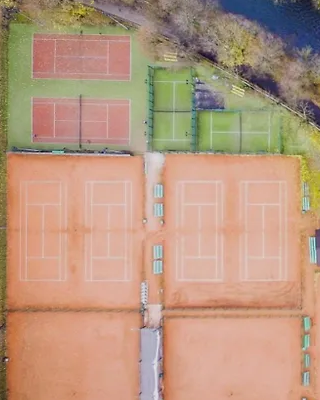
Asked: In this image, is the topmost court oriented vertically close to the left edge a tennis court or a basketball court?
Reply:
tennis court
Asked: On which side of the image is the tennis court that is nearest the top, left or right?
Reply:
left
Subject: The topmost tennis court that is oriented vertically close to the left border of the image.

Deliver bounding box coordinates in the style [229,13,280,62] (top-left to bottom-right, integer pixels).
[8,155,75,308]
